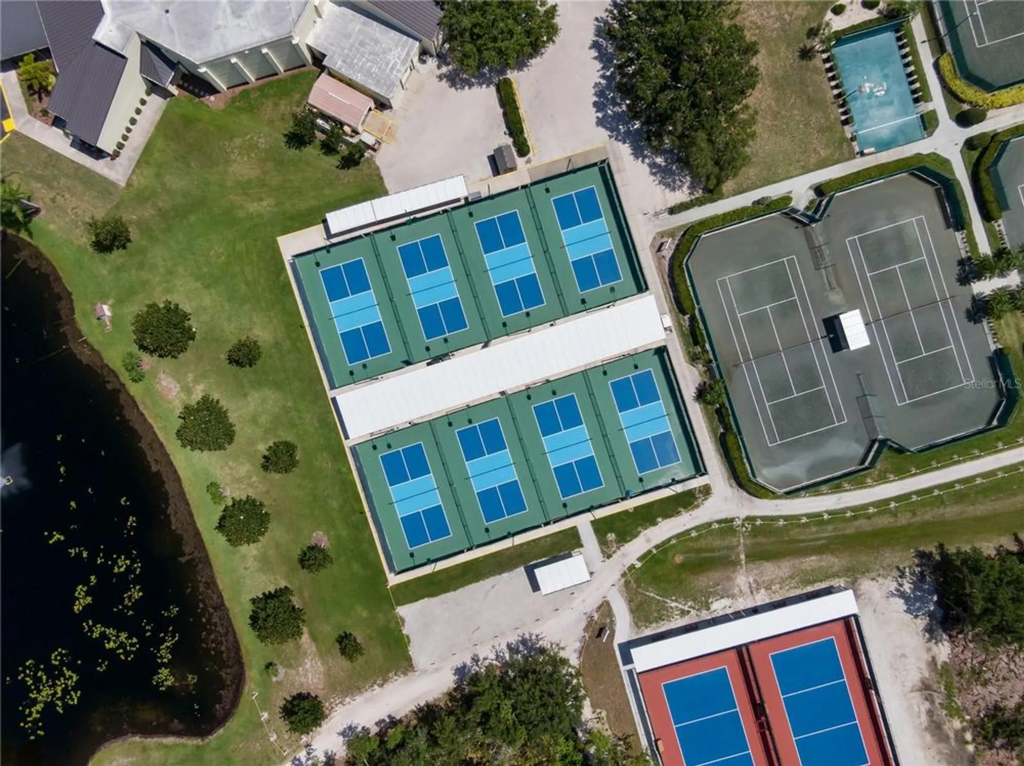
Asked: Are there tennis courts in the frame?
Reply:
Yes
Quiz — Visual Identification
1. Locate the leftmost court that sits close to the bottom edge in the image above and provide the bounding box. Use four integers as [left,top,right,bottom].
[638,645,778,766]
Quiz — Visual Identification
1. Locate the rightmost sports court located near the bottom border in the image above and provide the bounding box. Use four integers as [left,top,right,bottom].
[744,616,897,766]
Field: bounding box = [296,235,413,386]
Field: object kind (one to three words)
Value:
sports court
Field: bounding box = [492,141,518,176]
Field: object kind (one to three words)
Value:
shed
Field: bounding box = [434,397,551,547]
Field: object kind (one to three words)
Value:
sports court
